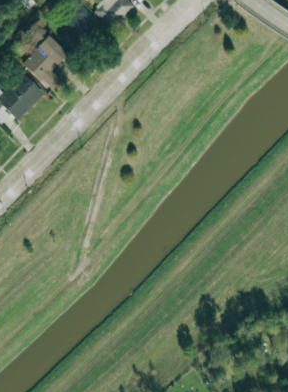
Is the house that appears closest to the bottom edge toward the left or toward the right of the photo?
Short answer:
left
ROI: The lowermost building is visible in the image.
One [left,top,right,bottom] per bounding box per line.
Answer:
[0,76,45,124]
